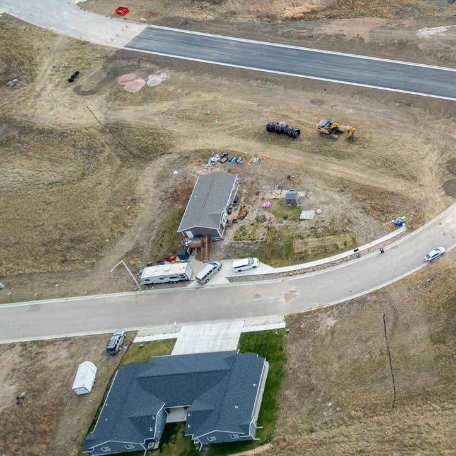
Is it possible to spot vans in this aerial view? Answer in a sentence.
Yes, the frame does contain a van.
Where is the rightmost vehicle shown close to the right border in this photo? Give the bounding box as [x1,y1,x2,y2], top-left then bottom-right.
[419,243,448,263]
